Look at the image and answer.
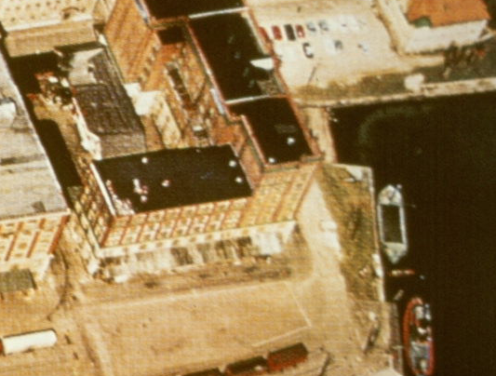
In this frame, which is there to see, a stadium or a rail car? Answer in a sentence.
It is a rail car that can be seen here.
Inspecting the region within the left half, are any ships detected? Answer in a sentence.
No, I see no ship within the left half.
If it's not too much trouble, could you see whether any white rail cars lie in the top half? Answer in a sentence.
No, in the top half there is no white rail car.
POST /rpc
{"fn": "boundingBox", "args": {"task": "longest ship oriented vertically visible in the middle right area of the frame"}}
[375,184,407,269]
